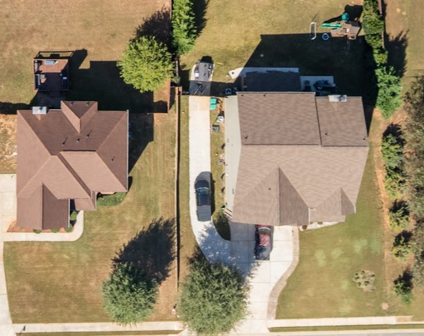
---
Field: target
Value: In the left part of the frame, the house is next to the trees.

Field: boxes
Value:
[17,100,129,230]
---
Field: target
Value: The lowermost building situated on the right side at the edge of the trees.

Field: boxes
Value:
[226,73,369,227]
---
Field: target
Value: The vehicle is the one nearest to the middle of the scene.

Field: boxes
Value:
[194,179,211,221]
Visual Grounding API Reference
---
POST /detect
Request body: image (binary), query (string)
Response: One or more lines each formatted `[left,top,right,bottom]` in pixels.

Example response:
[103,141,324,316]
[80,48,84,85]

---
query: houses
[226,73,369,227]
[17,100,129,230]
